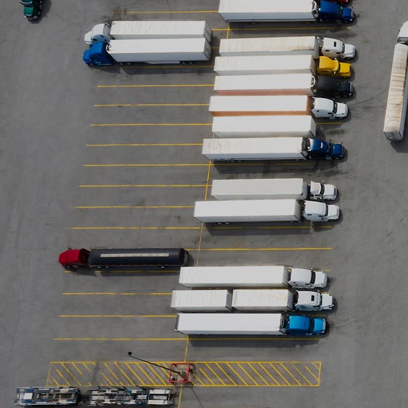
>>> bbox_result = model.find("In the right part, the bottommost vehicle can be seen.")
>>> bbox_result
[173,313,327,336]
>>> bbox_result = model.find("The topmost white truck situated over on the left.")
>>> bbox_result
[83,21,214,45]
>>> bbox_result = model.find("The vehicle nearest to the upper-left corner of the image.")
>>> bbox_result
[18,0,40,21]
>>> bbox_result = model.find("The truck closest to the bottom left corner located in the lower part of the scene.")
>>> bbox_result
[9,383,183,407]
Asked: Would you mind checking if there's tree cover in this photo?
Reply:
No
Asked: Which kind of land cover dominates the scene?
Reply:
paved ground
